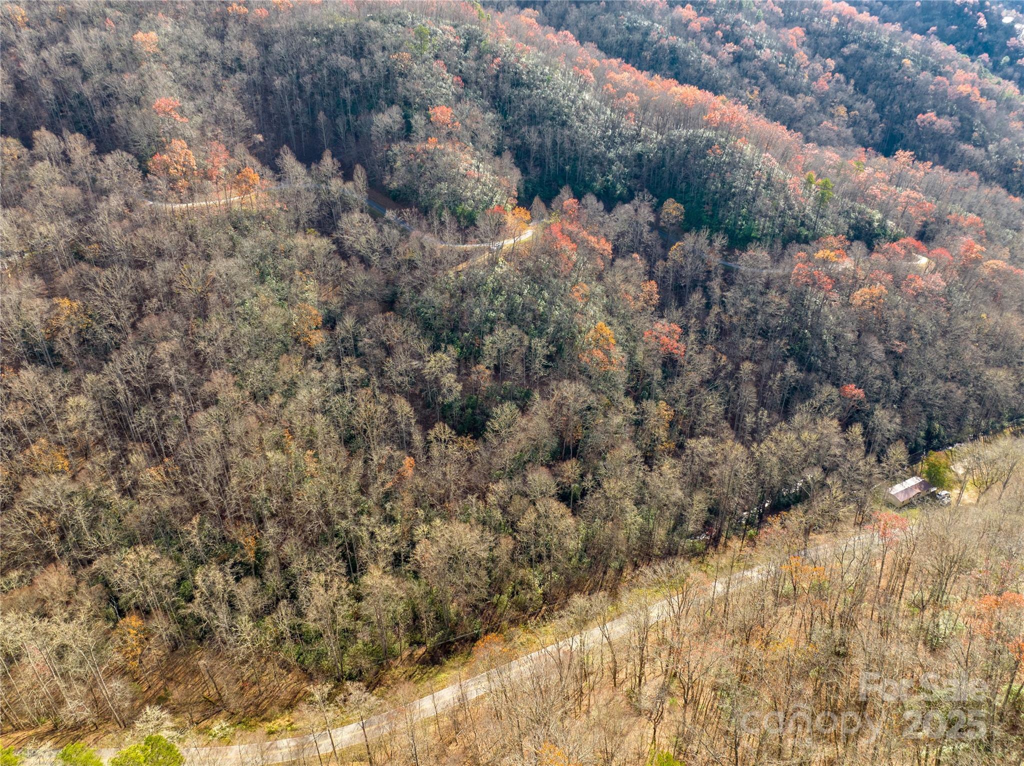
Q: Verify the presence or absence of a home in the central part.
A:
No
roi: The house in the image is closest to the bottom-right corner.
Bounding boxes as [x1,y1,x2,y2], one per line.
[884,478,933,508]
